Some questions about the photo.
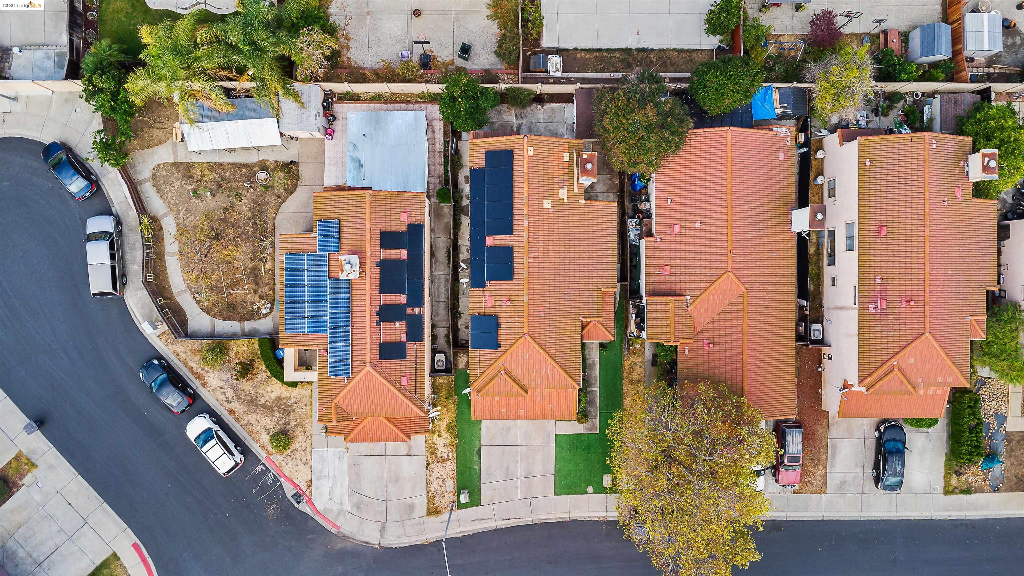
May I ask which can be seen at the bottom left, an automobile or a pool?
automobile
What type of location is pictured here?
residential area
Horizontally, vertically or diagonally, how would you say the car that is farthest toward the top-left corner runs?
diagonally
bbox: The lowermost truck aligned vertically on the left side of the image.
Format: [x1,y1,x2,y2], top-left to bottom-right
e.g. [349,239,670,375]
[86,215,129,298]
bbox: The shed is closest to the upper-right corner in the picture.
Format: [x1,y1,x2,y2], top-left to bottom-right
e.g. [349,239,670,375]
[948,13,1003,60]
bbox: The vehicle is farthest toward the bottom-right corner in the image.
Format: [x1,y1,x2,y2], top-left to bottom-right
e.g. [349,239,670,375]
[871,418,911,492]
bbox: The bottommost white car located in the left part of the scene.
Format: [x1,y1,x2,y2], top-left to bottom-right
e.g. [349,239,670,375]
[189,410,249,477]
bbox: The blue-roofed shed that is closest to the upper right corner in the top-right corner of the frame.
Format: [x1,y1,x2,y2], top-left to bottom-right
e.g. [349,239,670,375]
[903,21,953,66]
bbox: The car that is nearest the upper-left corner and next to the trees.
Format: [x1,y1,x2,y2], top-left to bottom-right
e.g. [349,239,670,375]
[46,140,102,206]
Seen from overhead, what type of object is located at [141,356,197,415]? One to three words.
car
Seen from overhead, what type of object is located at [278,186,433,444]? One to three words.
house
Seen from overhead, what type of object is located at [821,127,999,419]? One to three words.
house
